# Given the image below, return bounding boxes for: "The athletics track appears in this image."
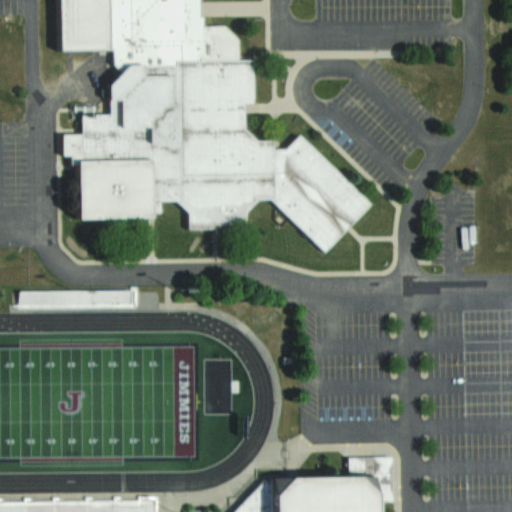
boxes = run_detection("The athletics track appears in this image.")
[0,313,273,492]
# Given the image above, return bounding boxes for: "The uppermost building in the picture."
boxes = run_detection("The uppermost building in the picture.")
[62,0,374,253]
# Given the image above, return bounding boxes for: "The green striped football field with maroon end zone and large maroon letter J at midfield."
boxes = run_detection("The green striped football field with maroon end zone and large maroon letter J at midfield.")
[0,340,198,466]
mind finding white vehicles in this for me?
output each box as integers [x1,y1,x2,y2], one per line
[470,226,476,246]
[462,226,469,252]
[454,378,464,384]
